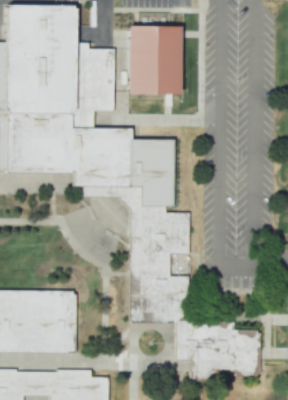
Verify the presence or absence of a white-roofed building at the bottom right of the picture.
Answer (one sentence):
Yes, the scene does show a white-roofed building at the bottom right of the picture.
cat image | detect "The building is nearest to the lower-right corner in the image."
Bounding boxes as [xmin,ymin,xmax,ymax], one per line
[178,322,260,378]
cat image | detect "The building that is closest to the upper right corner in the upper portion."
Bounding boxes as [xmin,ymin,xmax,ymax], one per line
[131,25,184,94]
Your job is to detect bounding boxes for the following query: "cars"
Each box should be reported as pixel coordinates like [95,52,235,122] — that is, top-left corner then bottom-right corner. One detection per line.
[263,196,270,206]
[240,5,250,15]
[226,196,236,206]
